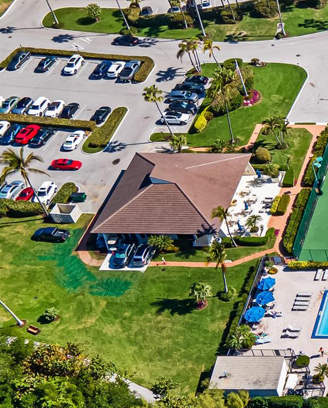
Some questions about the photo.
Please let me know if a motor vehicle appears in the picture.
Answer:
Yes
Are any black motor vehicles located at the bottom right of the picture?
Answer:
No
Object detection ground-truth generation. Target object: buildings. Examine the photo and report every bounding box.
[91,152,273,252]
[207,355,291,400]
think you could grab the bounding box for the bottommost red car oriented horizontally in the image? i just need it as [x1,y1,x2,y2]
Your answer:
[51,159,84,172]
